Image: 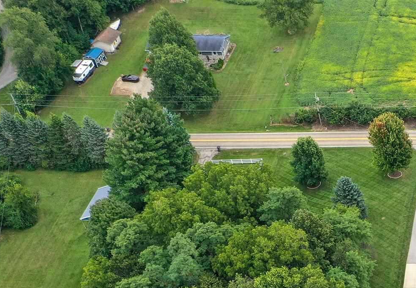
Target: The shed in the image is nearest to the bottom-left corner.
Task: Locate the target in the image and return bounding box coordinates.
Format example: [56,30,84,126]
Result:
[80,183,118,228]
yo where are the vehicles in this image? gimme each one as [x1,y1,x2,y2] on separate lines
[73,58,94,79]
[120,73,139,81]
